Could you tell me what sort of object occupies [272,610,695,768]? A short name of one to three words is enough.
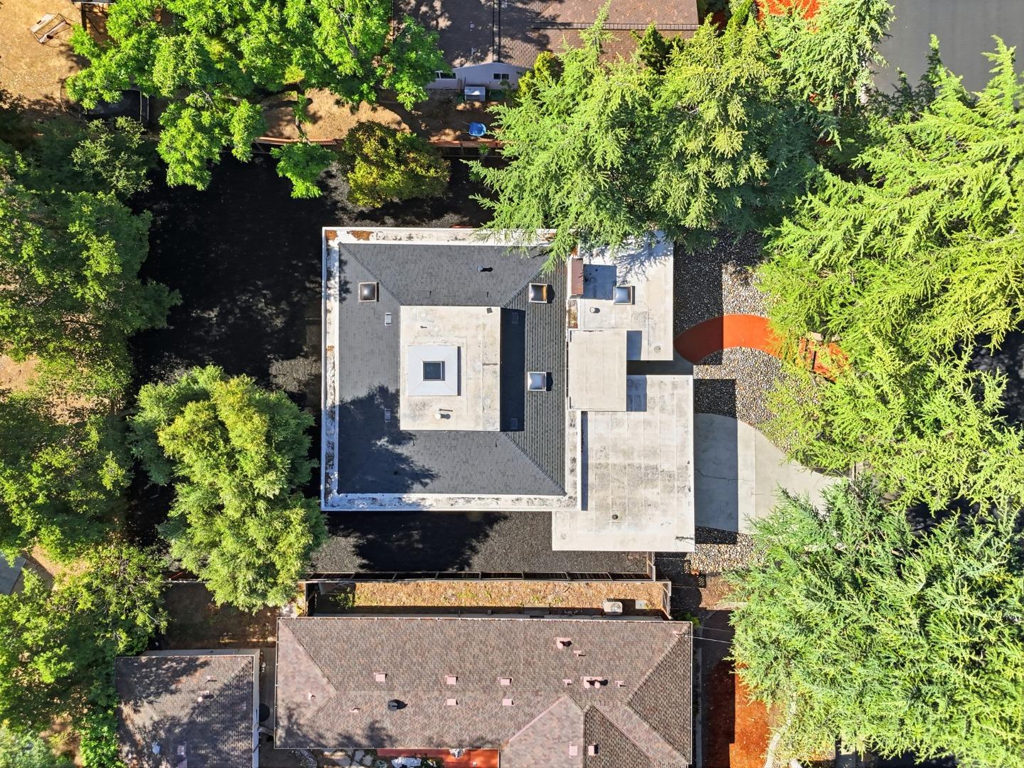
house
